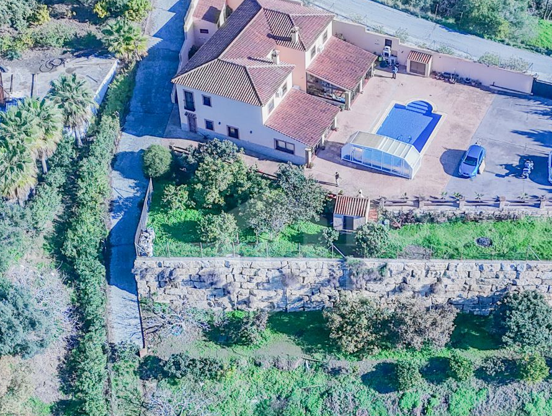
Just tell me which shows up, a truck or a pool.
pool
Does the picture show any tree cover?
Yes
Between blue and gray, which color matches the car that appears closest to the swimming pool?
blue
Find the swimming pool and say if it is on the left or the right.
right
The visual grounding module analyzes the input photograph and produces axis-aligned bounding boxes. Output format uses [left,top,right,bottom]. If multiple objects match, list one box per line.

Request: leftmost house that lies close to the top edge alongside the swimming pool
[166,0,378,164]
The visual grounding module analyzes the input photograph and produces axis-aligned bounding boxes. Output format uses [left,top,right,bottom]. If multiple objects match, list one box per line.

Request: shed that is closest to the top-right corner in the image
[406,48,431,74]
